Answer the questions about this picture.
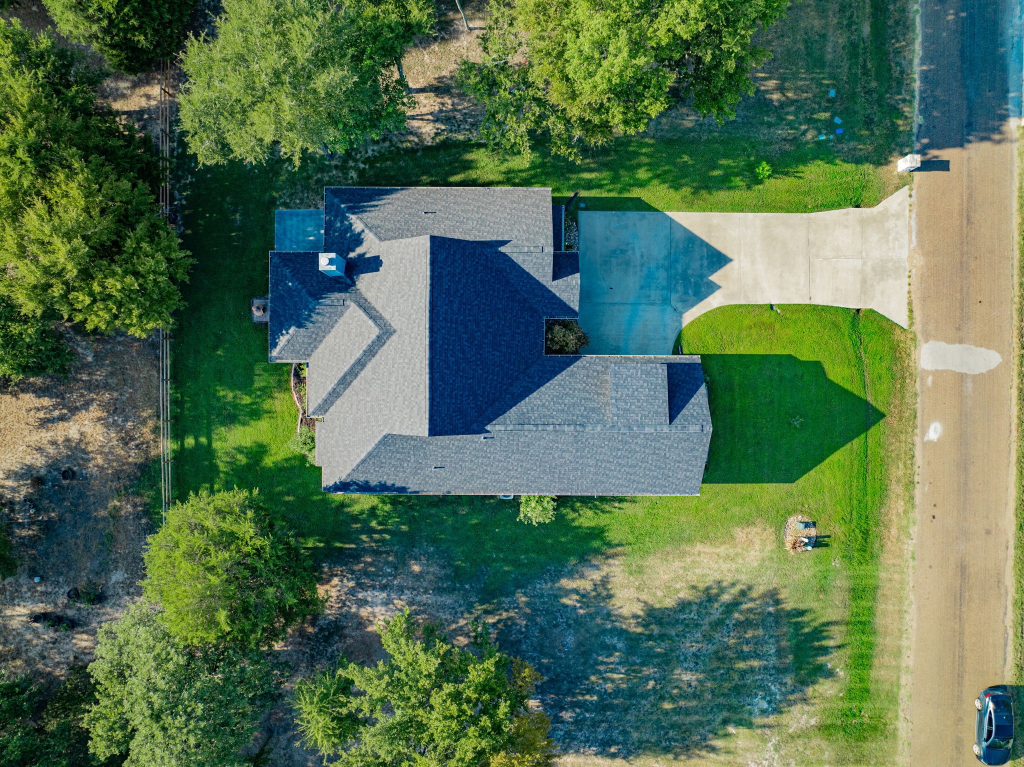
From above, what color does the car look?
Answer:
blue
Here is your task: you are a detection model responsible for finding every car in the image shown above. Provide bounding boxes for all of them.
[974,688,1020,767]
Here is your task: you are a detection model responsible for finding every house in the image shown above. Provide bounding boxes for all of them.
[267,185,712,498]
